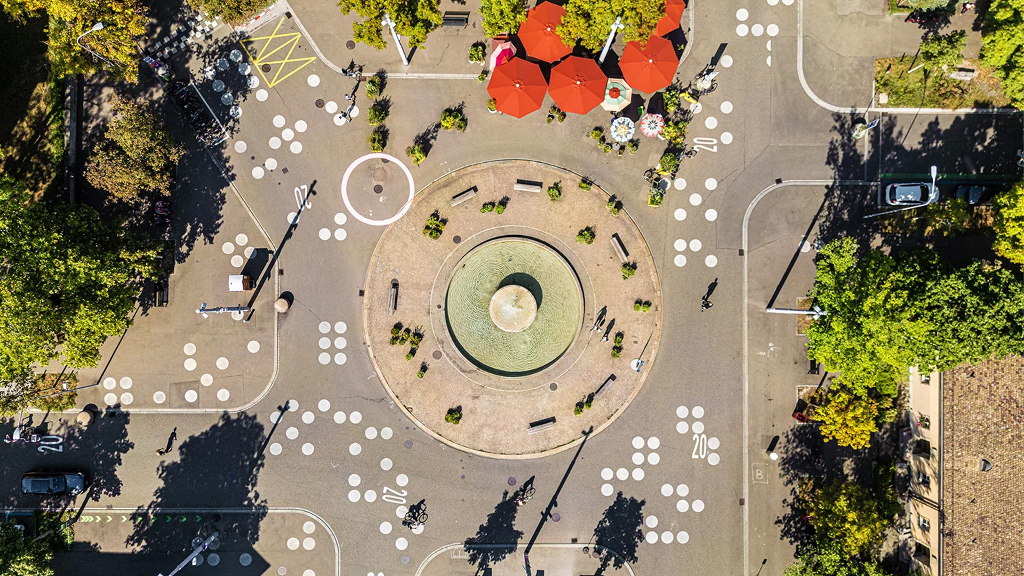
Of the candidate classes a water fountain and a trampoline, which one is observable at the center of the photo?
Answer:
water fountain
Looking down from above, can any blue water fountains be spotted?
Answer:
No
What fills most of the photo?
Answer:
paved ground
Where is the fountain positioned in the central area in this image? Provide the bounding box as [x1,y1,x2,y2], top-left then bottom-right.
[443,237,584,379]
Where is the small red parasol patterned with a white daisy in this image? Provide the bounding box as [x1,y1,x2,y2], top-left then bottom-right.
[639,115,663,139]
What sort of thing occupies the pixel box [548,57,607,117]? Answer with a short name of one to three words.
umbrella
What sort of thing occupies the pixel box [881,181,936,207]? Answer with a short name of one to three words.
car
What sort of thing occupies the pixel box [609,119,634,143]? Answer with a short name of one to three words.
umbrella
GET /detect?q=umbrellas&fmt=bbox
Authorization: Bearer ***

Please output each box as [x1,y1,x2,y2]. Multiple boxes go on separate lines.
[609,119,634,143]
[487,58,547,119]
[618,36,679,96]
[639,115,663,139]
[518,3,578,63]
[602,82,631,110]
[638,0,689,35]
[548,57,607,117]
[487,43,519,71]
